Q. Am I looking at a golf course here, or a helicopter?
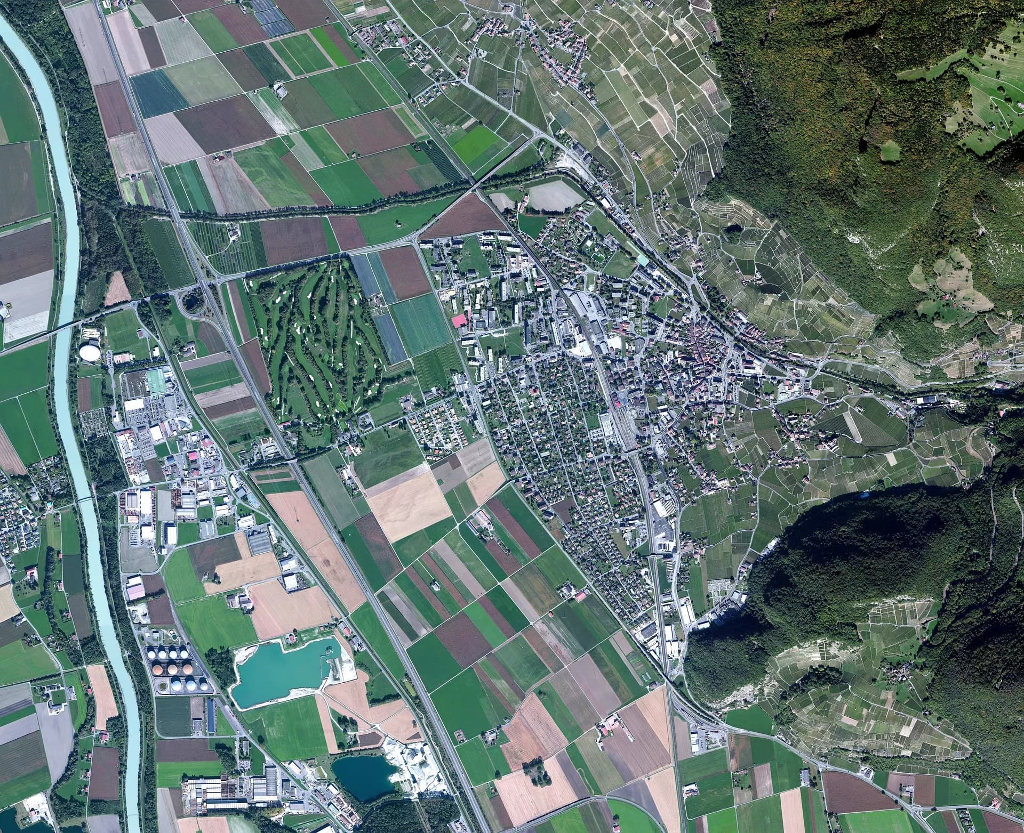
golf course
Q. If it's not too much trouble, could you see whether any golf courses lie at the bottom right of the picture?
No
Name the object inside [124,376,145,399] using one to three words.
building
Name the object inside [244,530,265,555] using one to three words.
building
